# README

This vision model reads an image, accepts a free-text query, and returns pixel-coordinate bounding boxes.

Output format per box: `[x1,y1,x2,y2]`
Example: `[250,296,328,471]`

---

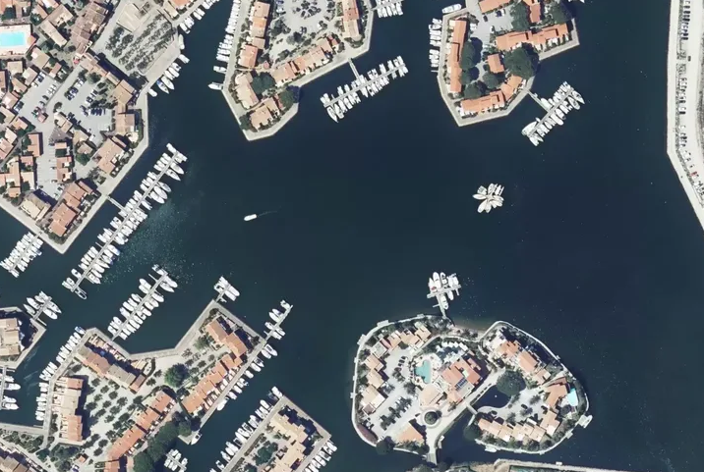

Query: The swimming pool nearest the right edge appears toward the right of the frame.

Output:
[562,388,578,409]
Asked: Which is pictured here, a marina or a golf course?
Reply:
marina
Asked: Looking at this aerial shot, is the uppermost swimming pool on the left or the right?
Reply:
left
